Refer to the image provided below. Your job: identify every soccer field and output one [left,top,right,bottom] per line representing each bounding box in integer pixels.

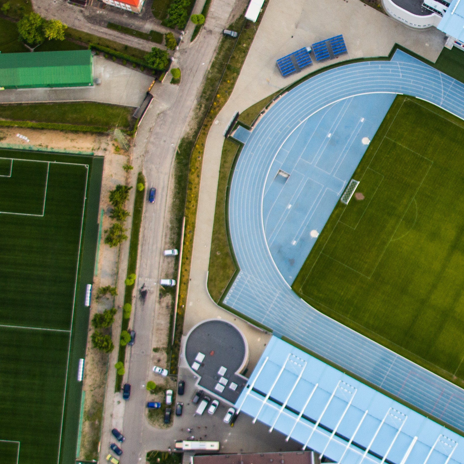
[0,148,104,464]
[292,94,464,390]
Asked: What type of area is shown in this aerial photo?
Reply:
sports ground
